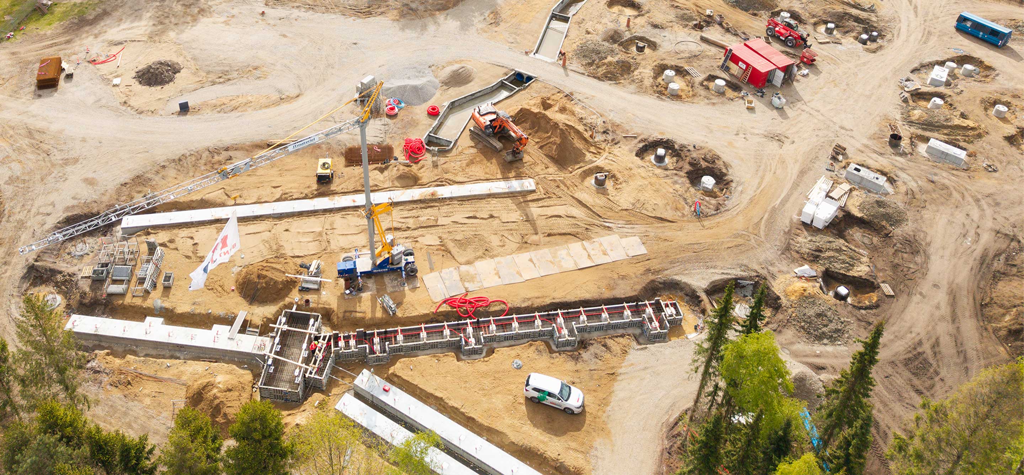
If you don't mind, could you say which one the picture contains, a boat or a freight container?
freight container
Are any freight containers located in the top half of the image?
Yes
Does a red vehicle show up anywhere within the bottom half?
No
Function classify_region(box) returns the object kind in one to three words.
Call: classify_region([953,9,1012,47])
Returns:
shipping container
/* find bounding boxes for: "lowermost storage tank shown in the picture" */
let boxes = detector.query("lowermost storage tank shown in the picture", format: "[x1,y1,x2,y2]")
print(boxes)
[844,163,886,191]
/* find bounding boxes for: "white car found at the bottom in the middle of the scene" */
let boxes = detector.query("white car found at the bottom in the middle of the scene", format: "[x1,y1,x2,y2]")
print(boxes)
[523,373,585,411]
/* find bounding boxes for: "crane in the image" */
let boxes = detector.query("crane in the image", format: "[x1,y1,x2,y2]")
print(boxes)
[19,84,425,293]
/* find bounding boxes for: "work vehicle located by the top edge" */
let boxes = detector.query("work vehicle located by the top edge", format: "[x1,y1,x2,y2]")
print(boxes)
[766,15,812,52]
